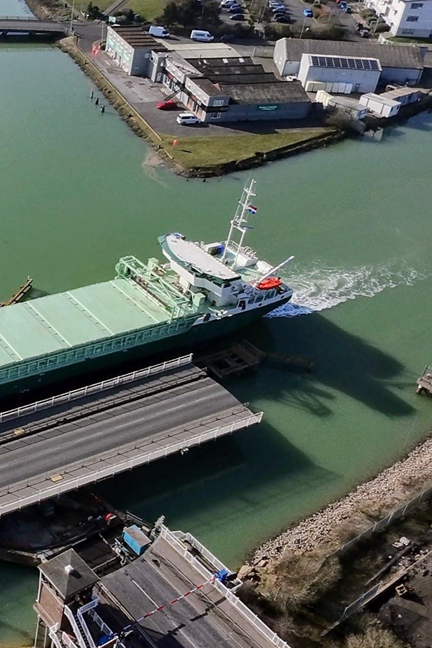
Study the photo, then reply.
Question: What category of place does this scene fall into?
port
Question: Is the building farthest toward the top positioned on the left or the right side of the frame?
right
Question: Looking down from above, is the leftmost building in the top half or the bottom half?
bottom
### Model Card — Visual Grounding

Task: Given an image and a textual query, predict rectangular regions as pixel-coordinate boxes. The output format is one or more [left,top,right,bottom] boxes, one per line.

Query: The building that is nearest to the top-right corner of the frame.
[374,0,432,37]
